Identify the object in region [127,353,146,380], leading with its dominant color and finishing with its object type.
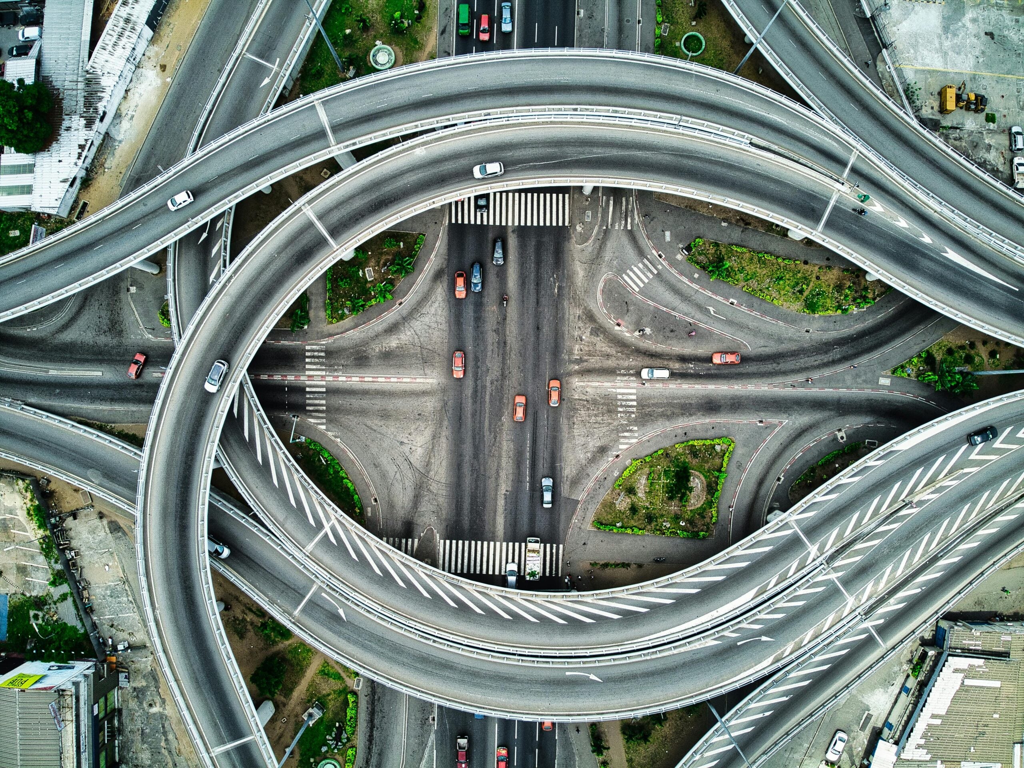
red car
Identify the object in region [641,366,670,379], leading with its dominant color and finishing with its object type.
white vehicle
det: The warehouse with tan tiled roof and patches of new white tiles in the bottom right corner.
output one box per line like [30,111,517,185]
[886,615,1024,768]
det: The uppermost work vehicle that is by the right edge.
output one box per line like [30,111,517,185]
[959,78,989,116]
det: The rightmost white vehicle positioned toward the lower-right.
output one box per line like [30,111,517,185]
[827,729,846,759]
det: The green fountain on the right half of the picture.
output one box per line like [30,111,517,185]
[681,30,707,56]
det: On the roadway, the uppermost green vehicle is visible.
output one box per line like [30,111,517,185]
[457,1,470,36]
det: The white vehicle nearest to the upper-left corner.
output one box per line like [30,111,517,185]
[17,25,43,42]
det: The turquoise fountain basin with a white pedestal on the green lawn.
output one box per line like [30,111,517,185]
[369,42,395,69]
